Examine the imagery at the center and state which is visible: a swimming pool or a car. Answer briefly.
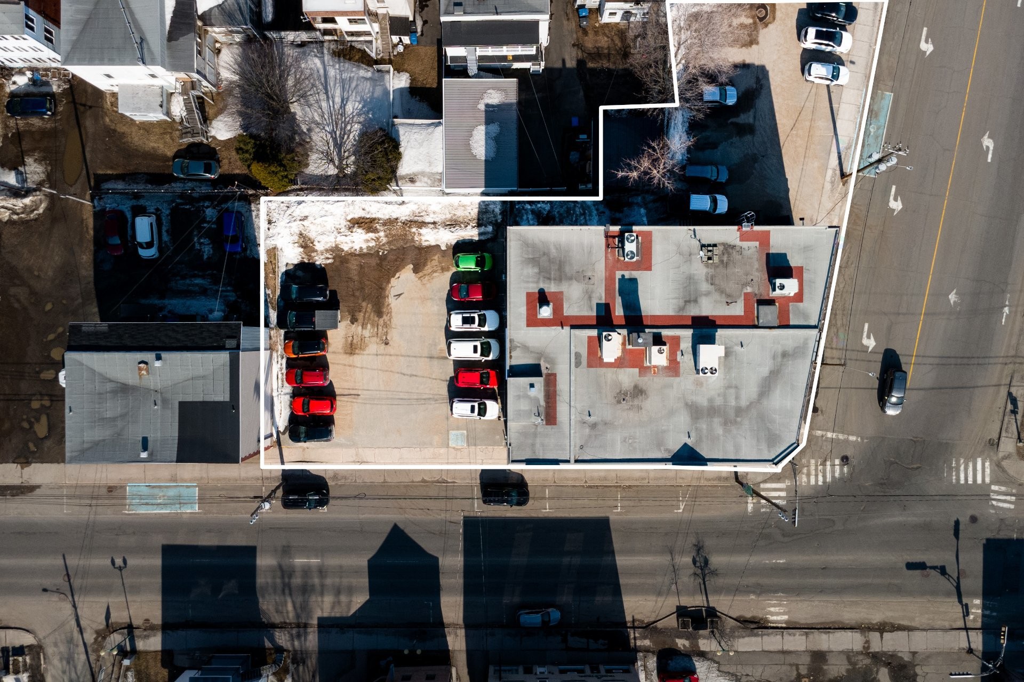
car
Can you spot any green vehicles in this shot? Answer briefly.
Yes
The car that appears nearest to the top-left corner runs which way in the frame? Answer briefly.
horizontally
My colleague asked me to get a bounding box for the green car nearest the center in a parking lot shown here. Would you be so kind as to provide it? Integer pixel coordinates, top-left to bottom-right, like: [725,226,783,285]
[453,251,493,273]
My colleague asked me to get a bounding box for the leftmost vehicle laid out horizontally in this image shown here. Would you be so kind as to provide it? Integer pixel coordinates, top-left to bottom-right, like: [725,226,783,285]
[7,95,56,119]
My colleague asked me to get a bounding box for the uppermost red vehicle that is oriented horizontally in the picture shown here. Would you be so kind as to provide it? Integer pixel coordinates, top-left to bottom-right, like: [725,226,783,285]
[451,280,497,303]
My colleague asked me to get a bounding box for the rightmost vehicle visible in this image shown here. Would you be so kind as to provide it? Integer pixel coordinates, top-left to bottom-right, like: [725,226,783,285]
[878,368,905,416]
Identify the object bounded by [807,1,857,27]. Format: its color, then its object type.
black car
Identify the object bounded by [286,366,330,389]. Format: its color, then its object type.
red car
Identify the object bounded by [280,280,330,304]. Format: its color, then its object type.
black car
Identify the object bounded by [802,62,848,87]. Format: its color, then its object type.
white car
